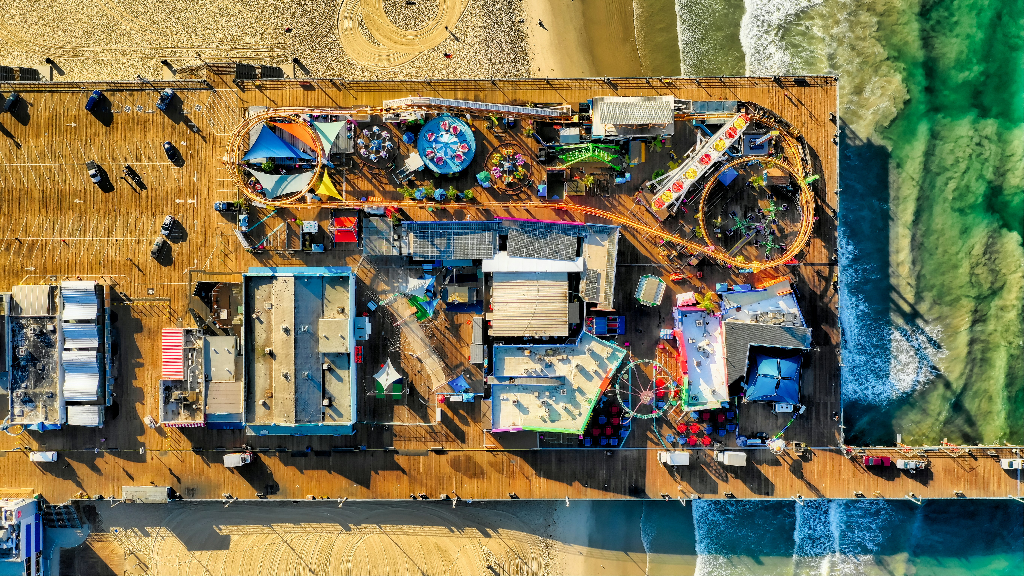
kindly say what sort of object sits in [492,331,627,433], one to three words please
building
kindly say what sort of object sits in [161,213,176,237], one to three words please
car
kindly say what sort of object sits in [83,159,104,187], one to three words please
truck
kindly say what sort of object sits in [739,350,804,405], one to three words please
tent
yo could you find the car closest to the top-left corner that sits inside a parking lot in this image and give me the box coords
[1,91,21,115]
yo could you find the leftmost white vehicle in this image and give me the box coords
[30,451,59,463]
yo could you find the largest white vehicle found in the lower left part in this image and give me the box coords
[221,449,259,467]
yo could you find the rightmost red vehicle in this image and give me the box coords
[862,455,890,467]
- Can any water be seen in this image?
Yes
